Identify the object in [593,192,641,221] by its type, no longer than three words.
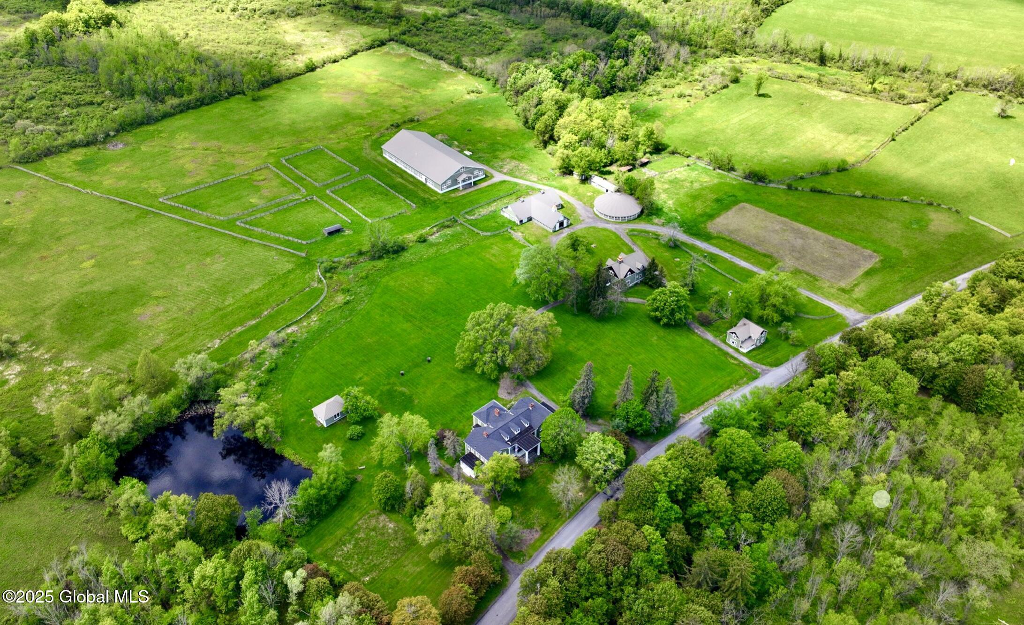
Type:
building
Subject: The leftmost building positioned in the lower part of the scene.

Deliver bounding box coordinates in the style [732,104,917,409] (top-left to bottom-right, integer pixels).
[311,392,347,428]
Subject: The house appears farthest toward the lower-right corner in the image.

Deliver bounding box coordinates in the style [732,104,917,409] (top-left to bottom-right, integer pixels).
[726,316,769,352]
